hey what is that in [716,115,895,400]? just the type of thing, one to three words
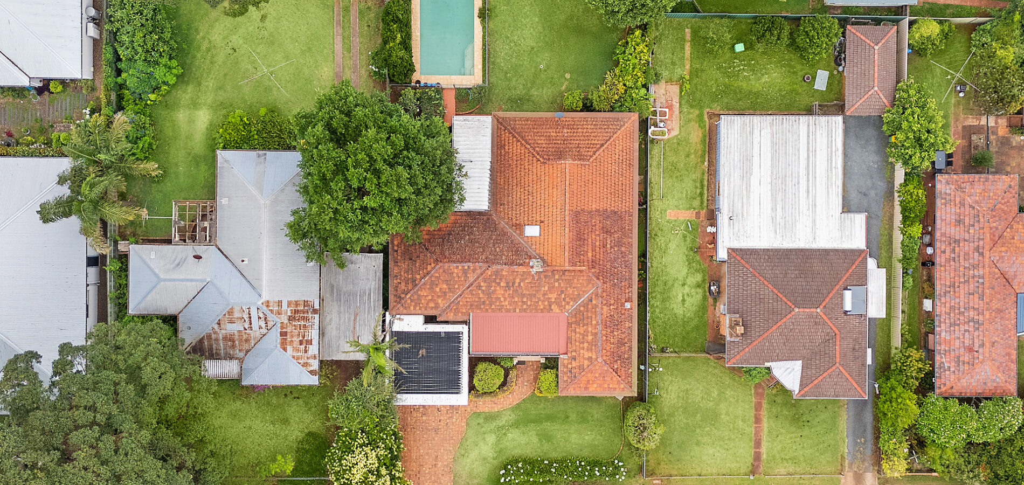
house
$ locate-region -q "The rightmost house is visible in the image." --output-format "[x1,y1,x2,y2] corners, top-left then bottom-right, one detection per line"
[931,173,1024,398]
